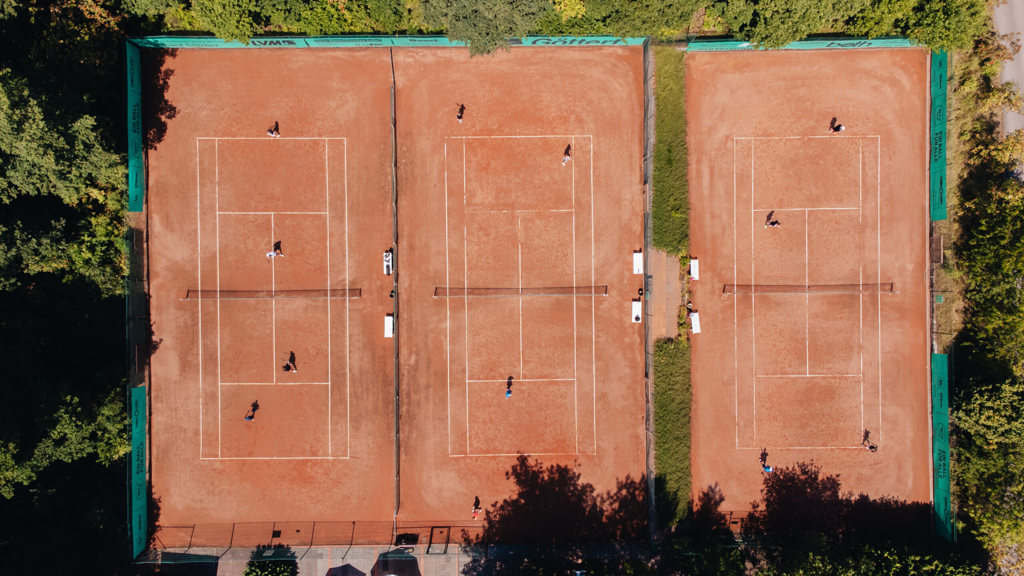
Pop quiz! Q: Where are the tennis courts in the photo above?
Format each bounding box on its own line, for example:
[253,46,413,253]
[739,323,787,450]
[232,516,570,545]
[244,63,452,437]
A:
[687,50,931,537]
[394,46,648,545]
[148,47,397,547]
